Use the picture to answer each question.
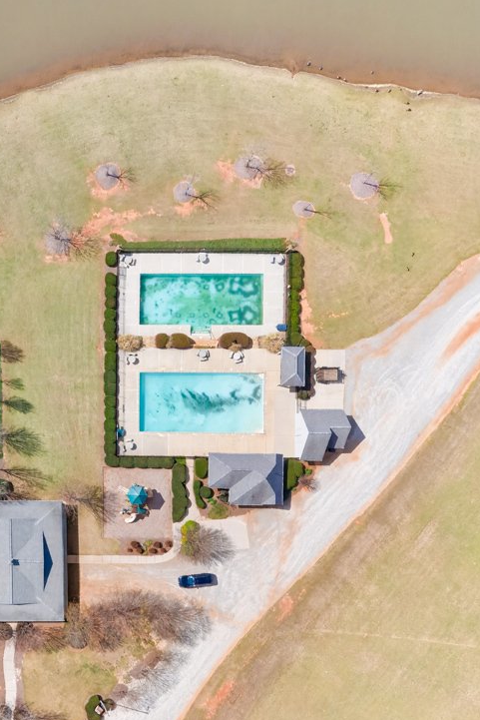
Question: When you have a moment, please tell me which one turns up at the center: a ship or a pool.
pool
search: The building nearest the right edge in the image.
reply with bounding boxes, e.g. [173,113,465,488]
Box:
[294,410,351,461]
